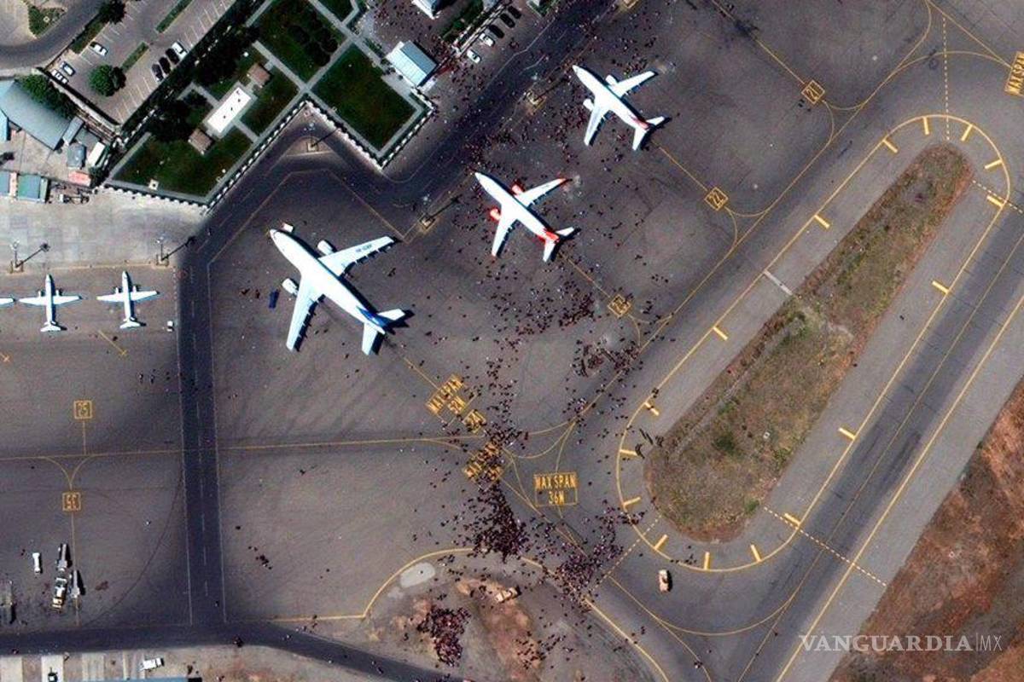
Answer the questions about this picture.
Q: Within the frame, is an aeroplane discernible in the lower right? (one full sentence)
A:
No, looking in the lower right, there is no aeroplane.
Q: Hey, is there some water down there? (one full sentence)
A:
No, the scene doesn't show any water.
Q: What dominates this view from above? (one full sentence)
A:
The scene is dominated by paved ground.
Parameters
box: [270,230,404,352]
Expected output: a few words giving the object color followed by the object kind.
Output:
white airplane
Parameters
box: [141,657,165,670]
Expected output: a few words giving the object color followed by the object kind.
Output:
white vehicle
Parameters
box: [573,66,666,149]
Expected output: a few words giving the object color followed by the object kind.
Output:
white airplane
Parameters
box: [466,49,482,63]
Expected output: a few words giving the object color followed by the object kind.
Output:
white car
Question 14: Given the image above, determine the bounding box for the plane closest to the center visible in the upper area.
[475,173,575,261]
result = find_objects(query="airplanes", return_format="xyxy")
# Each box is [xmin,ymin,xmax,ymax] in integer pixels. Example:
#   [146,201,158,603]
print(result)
[270,230,404,352]
[573,66,666,149]
[475,173,575,261]
[0,300,14,306]
[97,273,159,329]
[19,275,81,331]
